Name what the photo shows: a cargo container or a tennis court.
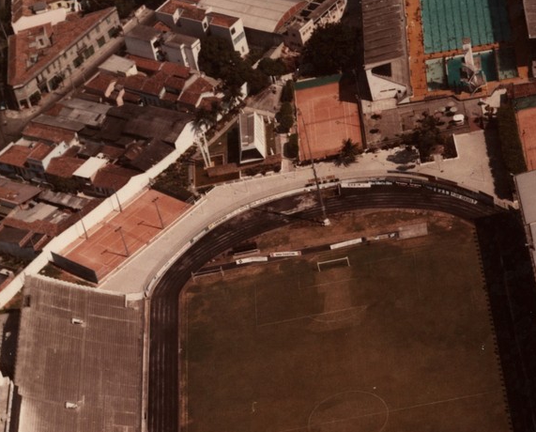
tennis court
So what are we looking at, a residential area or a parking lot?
residential area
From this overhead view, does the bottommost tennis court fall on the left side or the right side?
left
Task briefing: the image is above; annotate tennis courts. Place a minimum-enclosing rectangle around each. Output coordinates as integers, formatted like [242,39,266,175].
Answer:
[294,80,364,161]
[63,190,191,280]
[517,110,536,168]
